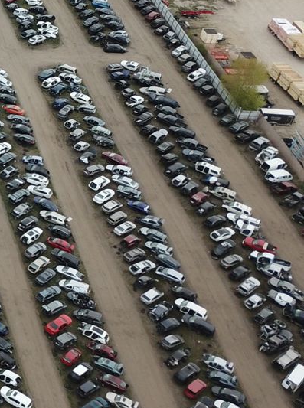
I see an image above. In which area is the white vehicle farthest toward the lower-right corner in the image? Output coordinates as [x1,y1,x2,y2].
[276,364,304,392]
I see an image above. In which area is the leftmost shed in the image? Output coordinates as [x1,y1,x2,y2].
[197,26,226,45]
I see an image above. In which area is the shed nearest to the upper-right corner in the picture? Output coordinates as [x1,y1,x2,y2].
[236,47,265,67]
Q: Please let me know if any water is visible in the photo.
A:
No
